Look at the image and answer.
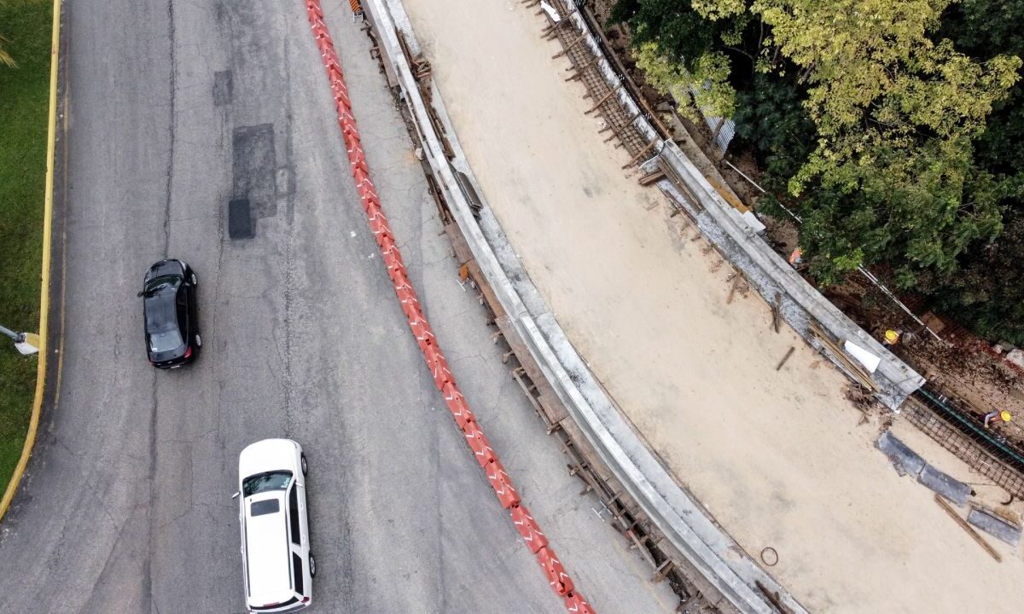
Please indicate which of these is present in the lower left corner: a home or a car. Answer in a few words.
car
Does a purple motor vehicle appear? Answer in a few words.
No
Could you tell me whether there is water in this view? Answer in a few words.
No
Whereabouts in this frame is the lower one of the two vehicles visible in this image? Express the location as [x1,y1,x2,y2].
[230,437,314,614]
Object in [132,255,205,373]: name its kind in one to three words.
car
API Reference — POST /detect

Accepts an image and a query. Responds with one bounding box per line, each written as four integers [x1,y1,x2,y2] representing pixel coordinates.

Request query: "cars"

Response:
[132,255,205,373]
[230,437,314,614]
